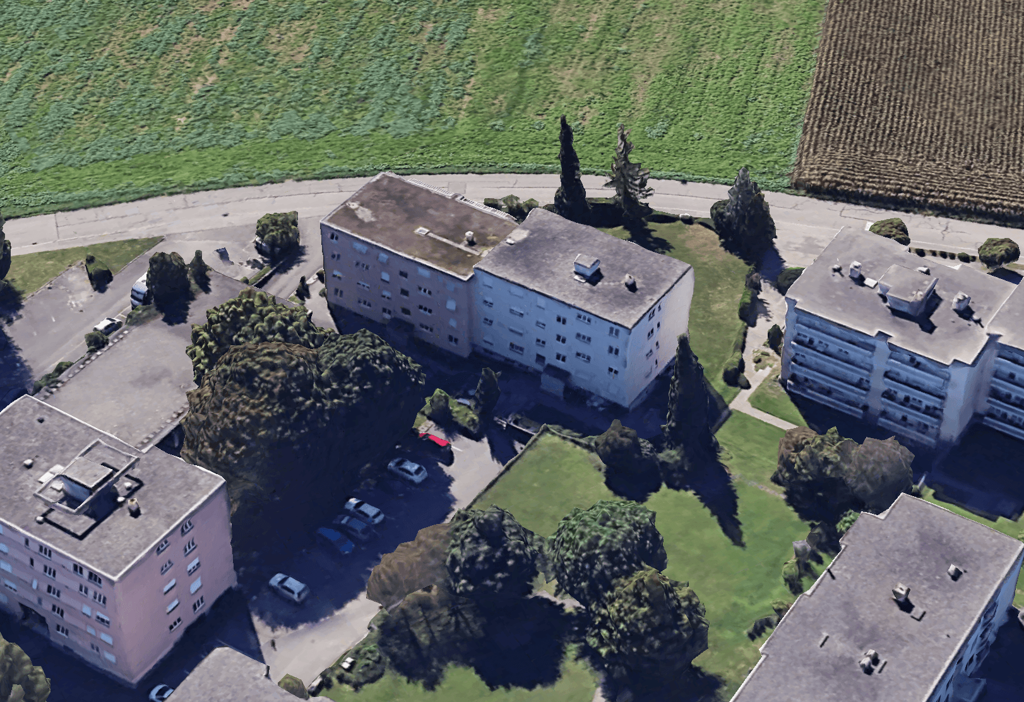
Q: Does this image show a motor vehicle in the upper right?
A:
No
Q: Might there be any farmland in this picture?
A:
Yes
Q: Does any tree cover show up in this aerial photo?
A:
Yes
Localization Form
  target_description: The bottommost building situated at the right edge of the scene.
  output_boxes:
[731,492,1024,702]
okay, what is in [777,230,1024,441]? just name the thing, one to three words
building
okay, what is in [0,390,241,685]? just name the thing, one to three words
building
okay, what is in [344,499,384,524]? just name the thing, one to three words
car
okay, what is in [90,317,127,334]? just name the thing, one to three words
car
